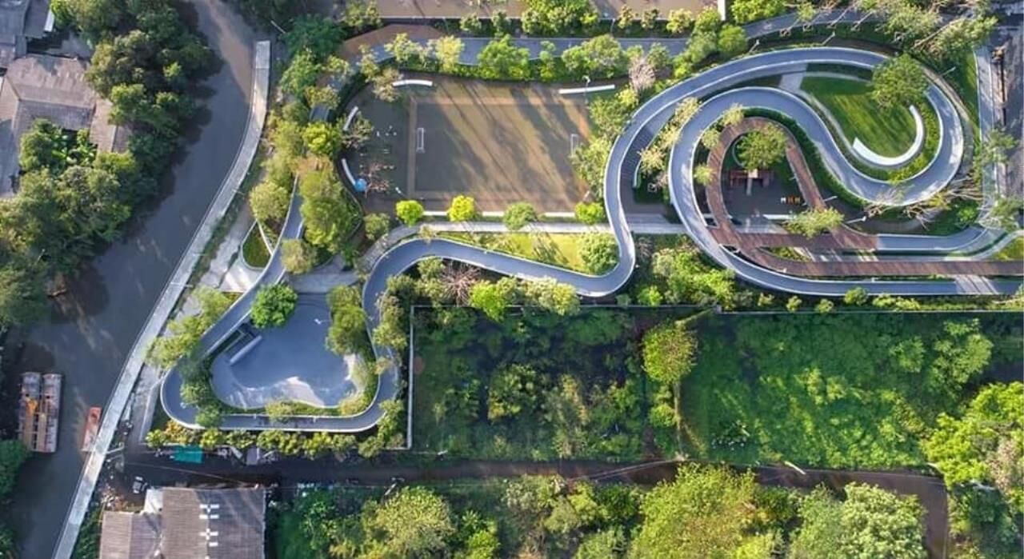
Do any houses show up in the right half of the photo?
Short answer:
No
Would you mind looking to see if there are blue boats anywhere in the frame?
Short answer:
No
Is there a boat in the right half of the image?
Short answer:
No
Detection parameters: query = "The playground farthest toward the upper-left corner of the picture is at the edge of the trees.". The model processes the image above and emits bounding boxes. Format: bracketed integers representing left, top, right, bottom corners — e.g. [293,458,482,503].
[336,68,412,222]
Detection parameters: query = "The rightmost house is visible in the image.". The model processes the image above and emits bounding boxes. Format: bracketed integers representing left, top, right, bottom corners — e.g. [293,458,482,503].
[161,485,269,559]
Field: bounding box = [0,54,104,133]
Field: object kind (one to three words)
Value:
house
